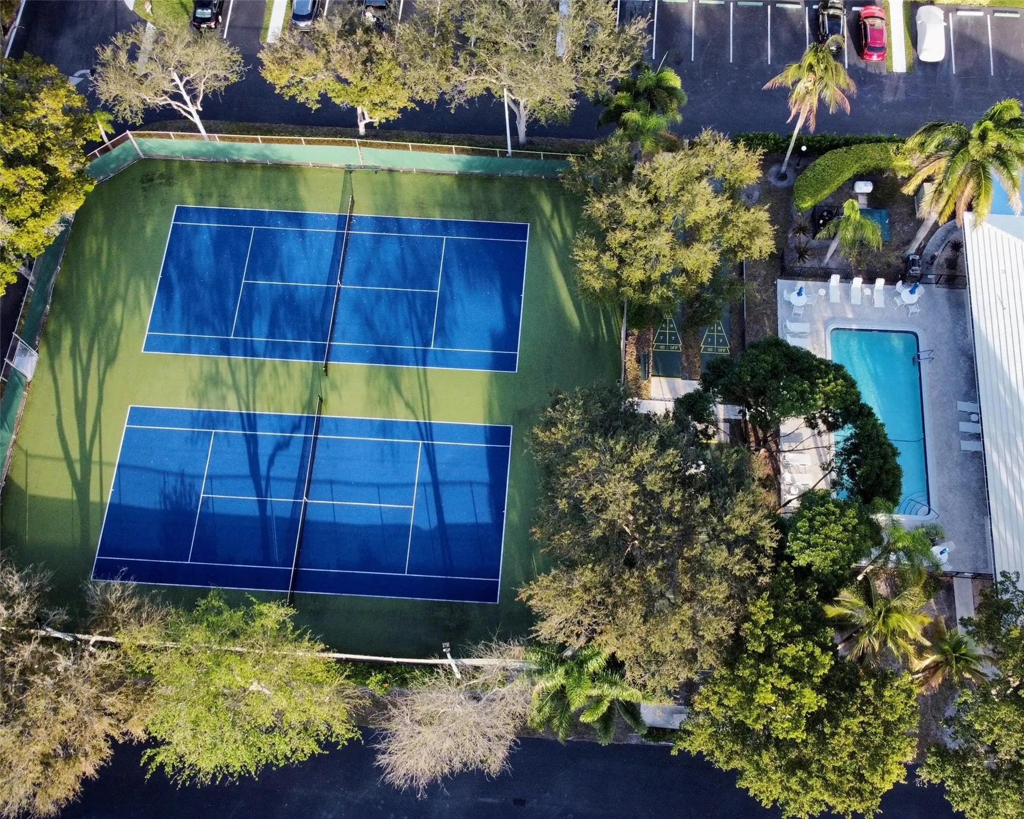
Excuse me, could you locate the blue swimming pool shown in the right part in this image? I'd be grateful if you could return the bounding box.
[825,324,940,520]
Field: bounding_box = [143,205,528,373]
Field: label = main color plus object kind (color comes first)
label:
blue tennis court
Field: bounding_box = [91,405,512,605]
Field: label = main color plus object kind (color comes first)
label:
blue tennis court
